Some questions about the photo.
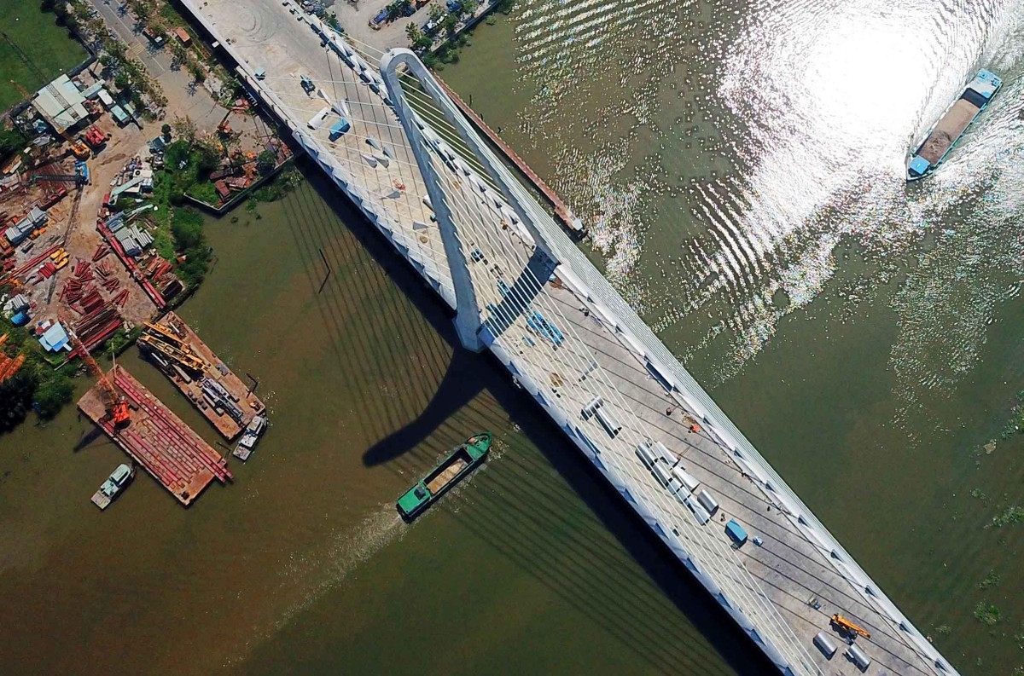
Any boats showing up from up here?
Yes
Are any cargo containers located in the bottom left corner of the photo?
No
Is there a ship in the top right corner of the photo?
Yes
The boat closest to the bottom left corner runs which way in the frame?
on a diagonal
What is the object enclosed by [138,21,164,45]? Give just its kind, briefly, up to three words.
truck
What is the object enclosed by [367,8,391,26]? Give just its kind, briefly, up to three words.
vehicle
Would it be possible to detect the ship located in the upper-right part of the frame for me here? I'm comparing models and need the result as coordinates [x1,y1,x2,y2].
[902,66,1008,184]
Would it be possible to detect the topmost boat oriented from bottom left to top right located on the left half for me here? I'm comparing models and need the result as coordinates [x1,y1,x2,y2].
[233,414,269,462]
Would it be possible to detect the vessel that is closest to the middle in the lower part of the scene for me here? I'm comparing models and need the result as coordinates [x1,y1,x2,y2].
[392,432,493,524]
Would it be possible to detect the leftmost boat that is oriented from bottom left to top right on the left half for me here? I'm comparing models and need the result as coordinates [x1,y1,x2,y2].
[89,464,134,512]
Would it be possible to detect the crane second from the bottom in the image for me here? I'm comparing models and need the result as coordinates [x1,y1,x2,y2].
[29,152,96,197]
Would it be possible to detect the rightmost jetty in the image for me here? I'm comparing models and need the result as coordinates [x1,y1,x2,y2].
[435,72,592,241]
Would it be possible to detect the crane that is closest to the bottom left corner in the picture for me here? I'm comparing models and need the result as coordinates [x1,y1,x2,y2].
[55,313,132,427]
